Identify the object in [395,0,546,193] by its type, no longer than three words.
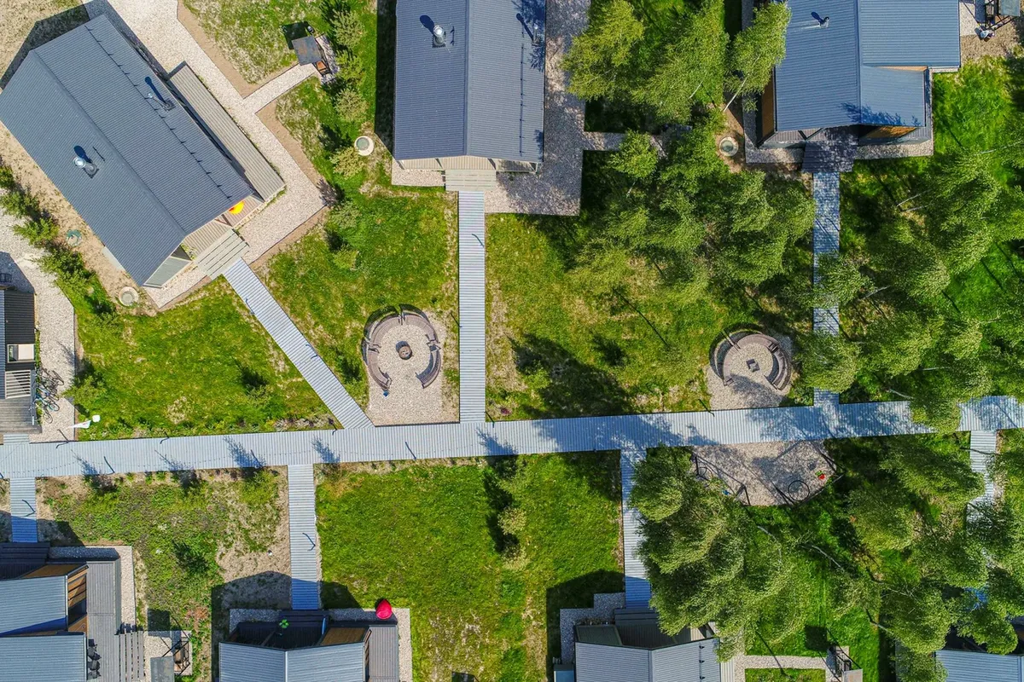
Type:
house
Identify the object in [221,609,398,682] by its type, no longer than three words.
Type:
house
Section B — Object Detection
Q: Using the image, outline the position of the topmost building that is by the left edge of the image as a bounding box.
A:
[0,16,287,286]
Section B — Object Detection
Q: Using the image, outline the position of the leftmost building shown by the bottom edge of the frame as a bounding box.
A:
[0,539,145,682]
